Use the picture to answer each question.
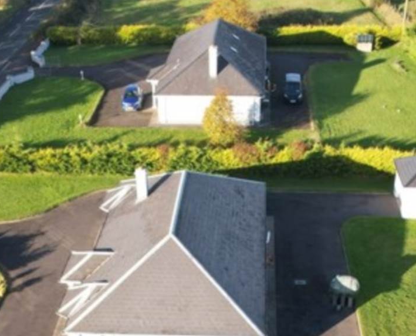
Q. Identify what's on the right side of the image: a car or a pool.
car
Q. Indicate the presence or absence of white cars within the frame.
No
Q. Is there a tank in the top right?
No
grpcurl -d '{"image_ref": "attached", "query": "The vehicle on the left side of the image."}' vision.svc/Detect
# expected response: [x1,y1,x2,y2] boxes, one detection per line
[119,84,143,108]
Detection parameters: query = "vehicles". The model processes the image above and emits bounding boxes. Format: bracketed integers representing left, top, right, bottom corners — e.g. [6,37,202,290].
[281,74,303,100]
[119,84,143,108]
